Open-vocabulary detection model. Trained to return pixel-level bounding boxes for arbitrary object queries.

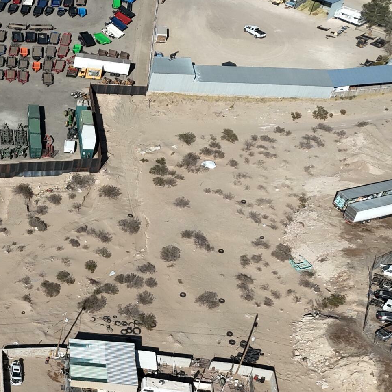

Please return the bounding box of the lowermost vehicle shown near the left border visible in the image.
[10,362,24,386]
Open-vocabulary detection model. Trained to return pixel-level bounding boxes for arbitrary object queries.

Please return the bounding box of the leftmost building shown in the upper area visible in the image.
[148,56,199,97]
